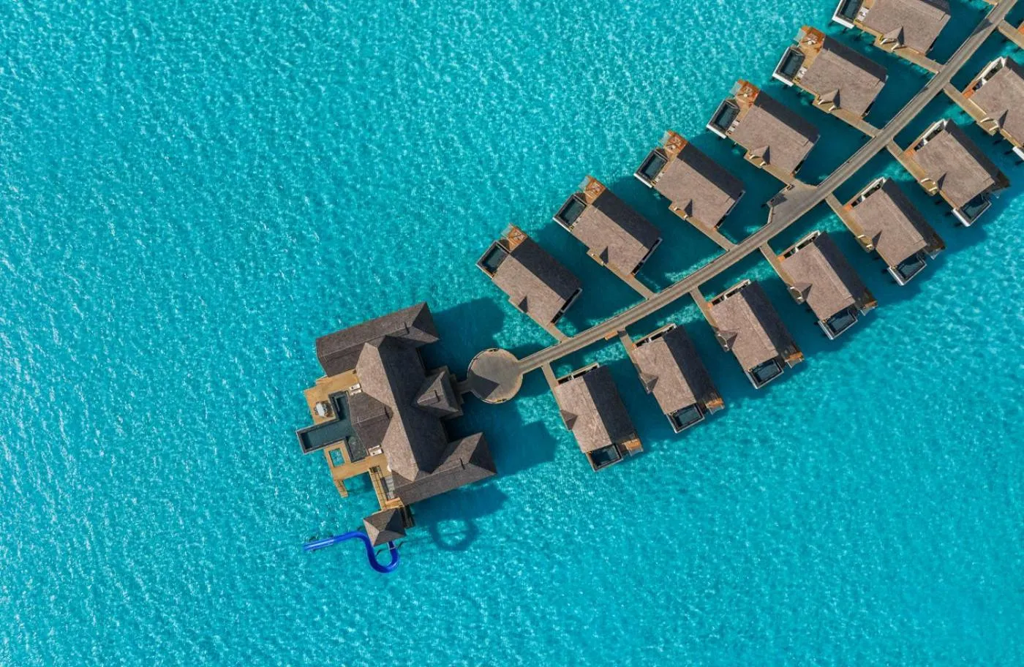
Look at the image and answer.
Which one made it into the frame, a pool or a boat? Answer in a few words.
pool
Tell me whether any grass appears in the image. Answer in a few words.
No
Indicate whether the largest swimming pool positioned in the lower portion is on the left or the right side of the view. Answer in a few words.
left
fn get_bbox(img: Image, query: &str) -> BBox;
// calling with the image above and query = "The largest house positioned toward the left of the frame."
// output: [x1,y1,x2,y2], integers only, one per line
[305,302,496,511]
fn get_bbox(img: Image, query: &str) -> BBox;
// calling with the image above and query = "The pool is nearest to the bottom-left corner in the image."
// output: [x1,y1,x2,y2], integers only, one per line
[296,387,373,463]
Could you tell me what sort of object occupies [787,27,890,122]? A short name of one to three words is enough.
house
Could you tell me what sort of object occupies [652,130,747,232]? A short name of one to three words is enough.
house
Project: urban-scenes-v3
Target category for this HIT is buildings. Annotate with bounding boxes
[630,319,722,416]
[903,116,1009,226]
[652,130,747,232]
[554,357,643,456]
[571,175,665,278]
[305,302,496,511]
[960,59,1024,157]
[726,79,822,178]
[775,227,875,321]
[787,27,890,122]
[847,0,954,58]
[842,174,944,272]
[493,222,586,326]
[706,275,801,370]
